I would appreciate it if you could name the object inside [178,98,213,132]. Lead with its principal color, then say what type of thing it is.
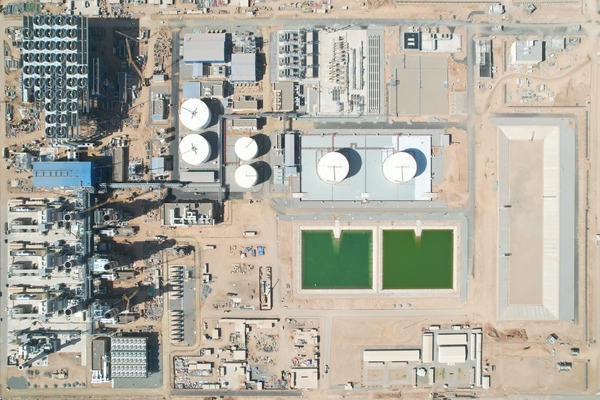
white storage tank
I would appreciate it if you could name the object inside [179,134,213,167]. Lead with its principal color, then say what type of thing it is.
white storage tank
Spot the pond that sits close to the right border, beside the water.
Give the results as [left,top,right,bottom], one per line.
[487,108,578,324]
